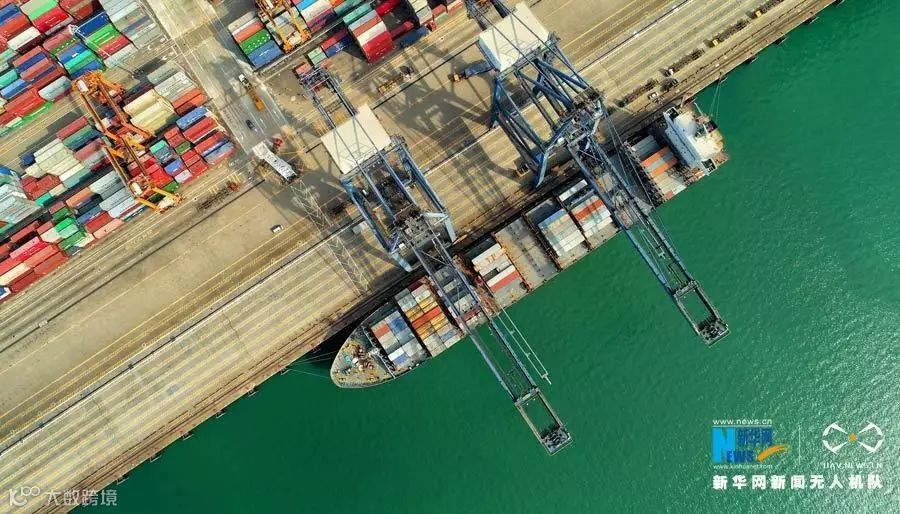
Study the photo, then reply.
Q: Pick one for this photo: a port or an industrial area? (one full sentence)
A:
The picture captures a port.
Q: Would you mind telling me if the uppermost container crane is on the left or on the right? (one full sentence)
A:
You can find the uppermost container crane on the left side of the picture.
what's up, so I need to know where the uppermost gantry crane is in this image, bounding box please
[252,0,312,54]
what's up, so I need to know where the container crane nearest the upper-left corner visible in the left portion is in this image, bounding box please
[60,67,156,157]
